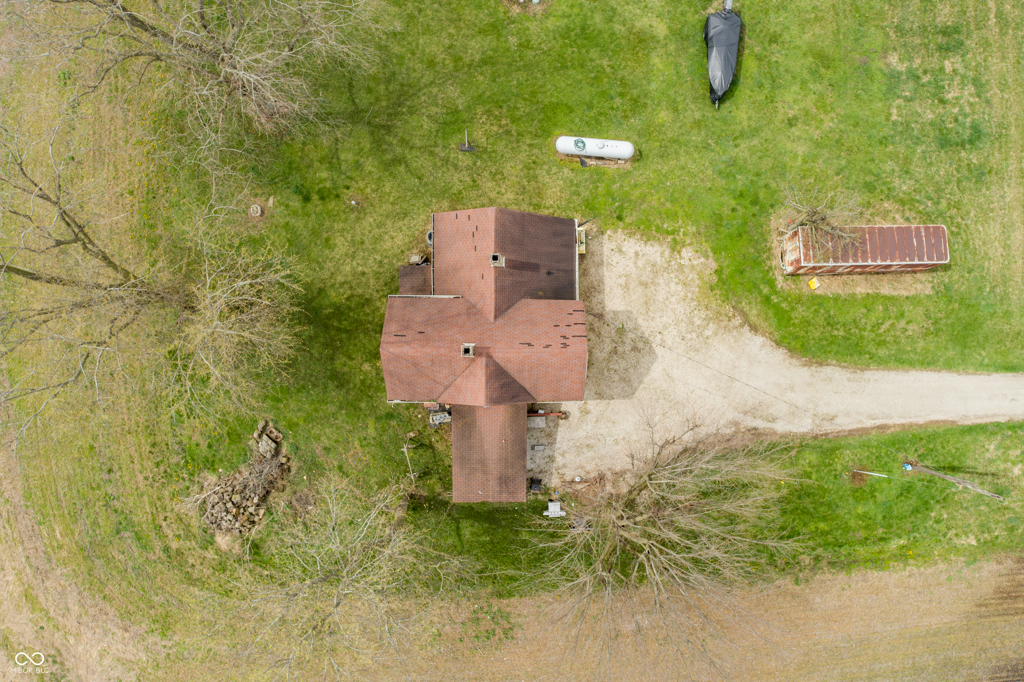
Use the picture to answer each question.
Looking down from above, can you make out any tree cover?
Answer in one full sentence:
Yes, there's tree cover in this view.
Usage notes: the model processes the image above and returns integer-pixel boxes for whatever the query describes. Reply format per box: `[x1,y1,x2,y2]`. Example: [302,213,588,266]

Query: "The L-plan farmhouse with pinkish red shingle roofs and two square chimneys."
[380,207,588,503]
